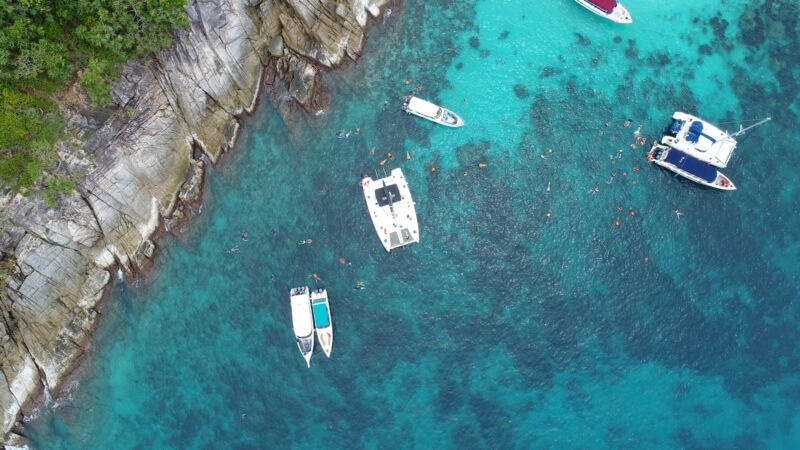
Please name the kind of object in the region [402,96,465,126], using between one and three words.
boat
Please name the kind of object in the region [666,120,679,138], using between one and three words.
boat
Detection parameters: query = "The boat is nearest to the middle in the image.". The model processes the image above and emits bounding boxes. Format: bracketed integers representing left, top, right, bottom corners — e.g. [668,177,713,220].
[363,169,419,250]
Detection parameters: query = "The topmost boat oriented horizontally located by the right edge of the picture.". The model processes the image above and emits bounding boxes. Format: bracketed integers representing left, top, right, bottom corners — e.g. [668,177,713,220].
[659,112,770,166]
